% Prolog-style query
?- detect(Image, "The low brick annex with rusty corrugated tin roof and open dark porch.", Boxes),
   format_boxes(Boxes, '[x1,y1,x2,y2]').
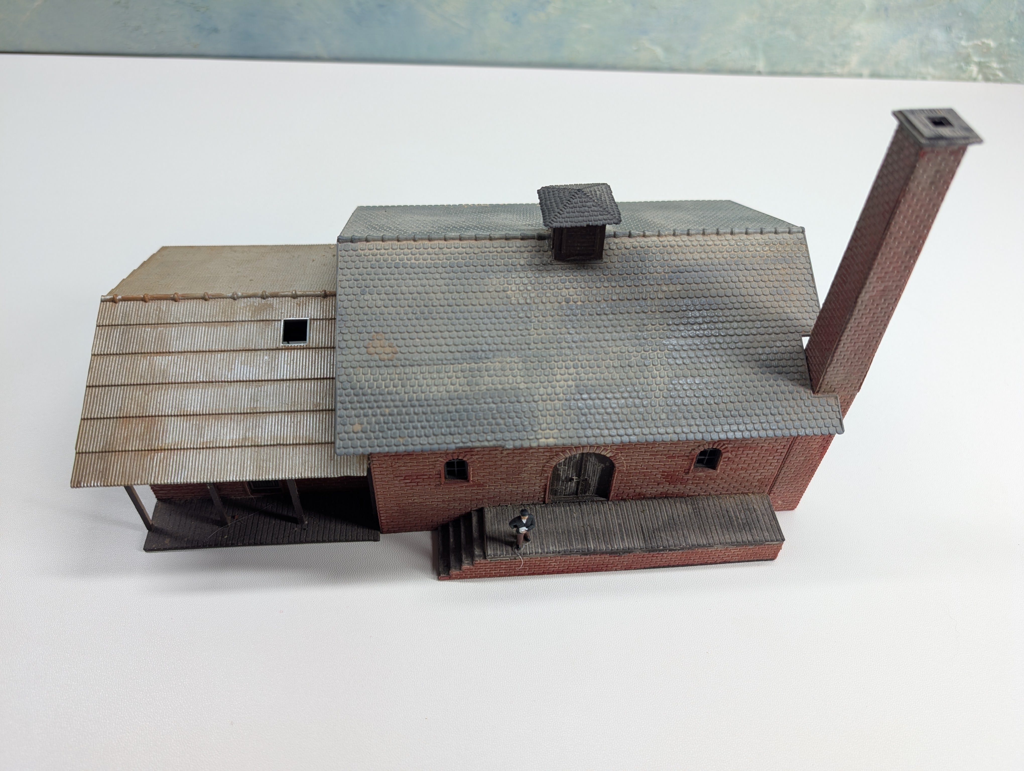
[70,243,380,551]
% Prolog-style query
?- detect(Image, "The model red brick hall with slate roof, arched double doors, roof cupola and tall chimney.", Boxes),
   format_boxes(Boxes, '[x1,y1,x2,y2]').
[334,109,985,533]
